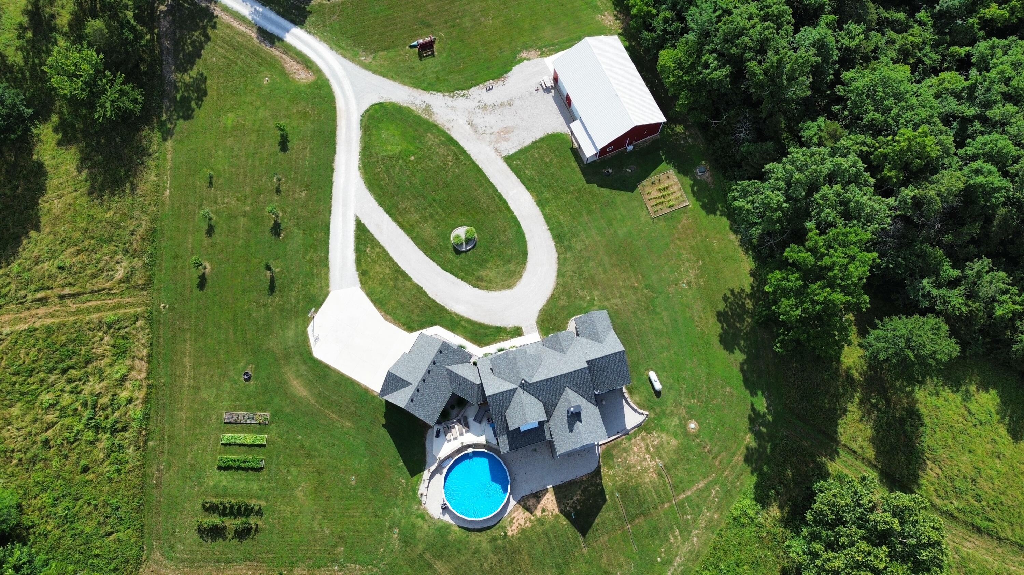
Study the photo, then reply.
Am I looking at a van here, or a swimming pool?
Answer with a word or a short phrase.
swimming pool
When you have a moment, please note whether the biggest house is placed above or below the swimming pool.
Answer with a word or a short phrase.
above it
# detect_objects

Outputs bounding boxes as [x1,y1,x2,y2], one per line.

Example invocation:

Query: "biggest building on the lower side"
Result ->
[379,310,631,458]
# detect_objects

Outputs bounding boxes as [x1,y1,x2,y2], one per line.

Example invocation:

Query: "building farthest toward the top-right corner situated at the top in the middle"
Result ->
[552,35,666,168]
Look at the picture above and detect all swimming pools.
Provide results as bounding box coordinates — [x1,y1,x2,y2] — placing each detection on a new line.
[442,450,511,522]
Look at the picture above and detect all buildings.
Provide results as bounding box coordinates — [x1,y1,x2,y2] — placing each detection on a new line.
[379,310,631,458]
[552,35,666,168]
